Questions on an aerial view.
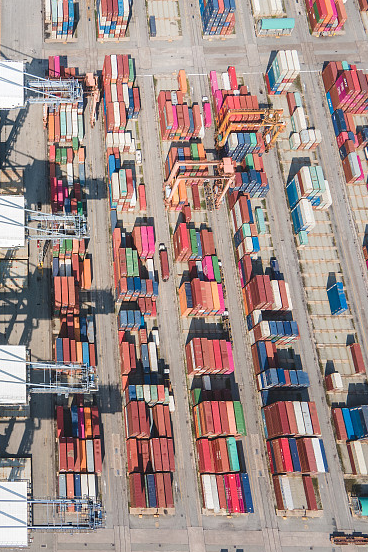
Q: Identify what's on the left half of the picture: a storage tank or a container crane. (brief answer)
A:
container crane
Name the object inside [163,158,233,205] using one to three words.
container crane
